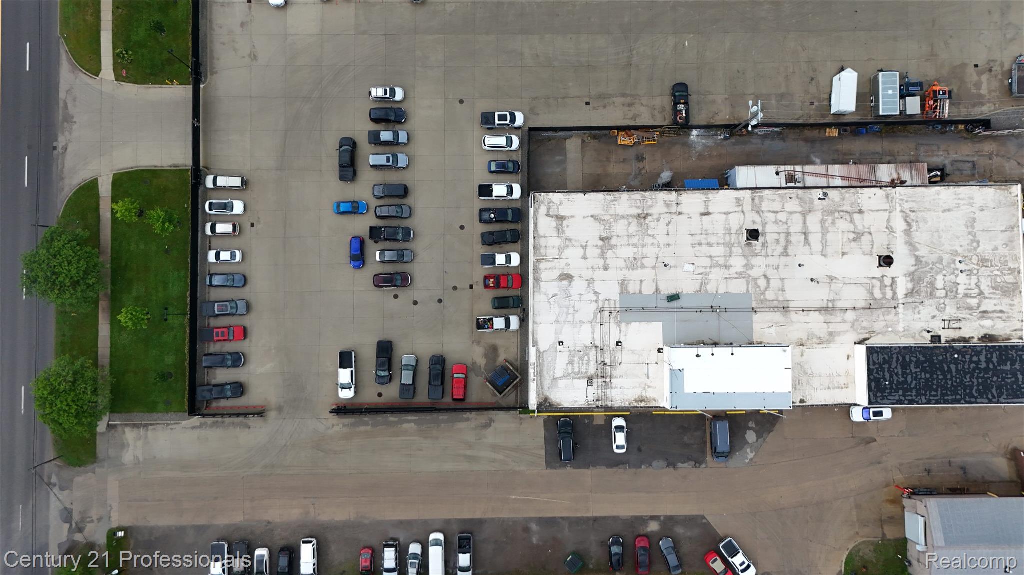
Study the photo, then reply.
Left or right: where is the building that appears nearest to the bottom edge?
right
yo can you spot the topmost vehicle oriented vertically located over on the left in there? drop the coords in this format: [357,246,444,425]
[337,137,357,184]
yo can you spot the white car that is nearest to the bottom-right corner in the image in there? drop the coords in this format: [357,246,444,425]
[847,406,892,423]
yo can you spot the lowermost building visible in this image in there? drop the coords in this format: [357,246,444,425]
[903,494,1024,575]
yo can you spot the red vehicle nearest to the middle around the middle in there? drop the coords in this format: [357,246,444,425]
[483,272,523,291]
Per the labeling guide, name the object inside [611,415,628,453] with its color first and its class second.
white car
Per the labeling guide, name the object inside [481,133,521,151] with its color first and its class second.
white car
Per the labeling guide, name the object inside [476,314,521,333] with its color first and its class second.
white vehicle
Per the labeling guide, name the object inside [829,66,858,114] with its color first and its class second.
white trailer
